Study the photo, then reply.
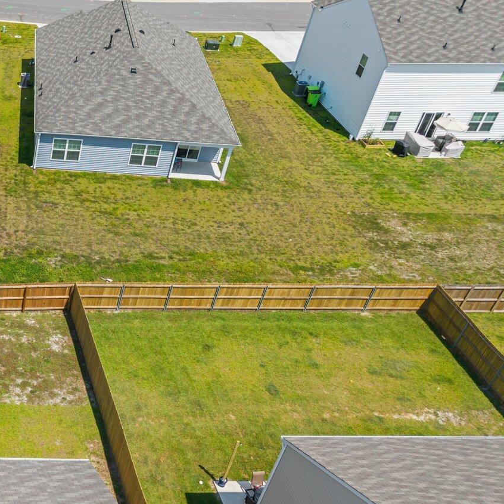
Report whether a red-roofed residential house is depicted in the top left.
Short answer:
No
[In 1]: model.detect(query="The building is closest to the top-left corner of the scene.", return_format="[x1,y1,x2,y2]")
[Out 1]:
[32,0,243,180]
